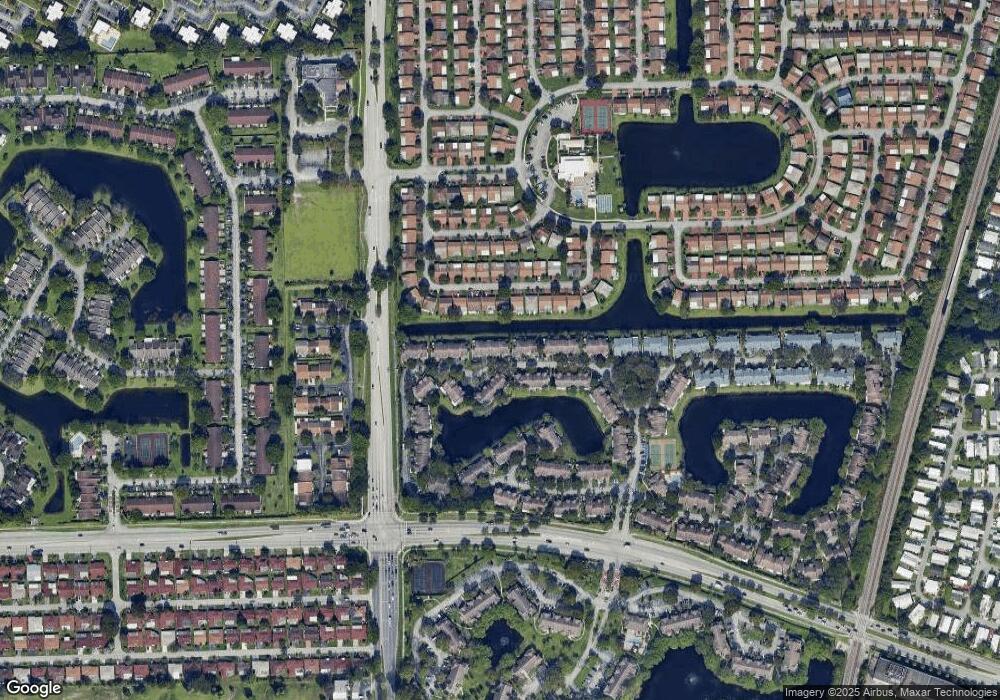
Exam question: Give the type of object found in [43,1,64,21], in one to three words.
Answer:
building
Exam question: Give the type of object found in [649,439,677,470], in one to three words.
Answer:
tennis court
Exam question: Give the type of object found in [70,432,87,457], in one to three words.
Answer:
swimming pool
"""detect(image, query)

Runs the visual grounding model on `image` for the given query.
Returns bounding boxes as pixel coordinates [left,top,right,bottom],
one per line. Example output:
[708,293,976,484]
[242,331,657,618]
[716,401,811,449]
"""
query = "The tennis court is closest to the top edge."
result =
[580,99,612,135]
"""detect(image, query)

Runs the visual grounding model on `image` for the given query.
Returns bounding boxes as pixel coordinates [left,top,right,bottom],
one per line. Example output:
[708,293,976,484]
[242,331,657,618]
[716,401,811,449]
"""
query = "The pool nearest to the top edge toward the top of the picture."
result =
[91,27,120,51]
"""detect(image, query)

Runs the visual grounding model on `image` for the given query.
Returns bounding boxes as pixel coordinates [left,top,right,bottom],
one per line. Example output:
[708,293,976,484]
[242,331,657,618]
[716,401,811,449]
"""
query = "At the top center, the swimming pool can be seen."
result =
[571,165,598,208]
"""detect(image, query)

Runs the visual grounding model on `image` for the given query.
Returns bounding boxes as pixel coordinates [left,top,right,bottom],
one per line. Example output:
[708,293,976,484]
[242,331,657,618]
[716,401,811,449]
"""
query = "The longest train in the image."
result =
[944,226,972,315]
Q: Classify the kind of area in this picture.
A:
residential area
